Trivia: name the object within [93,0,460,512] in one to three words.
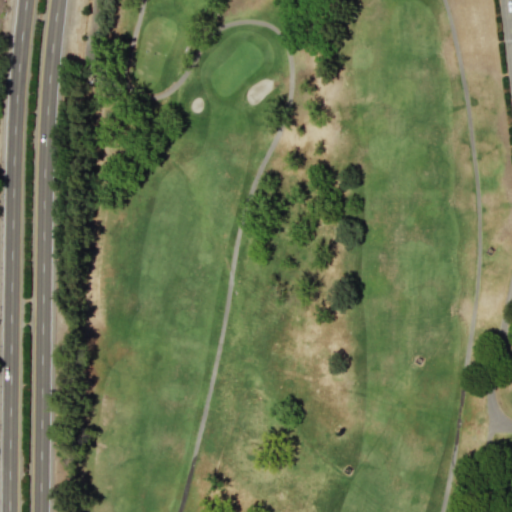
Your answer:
golf course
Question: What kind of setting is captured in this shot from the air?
golf course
